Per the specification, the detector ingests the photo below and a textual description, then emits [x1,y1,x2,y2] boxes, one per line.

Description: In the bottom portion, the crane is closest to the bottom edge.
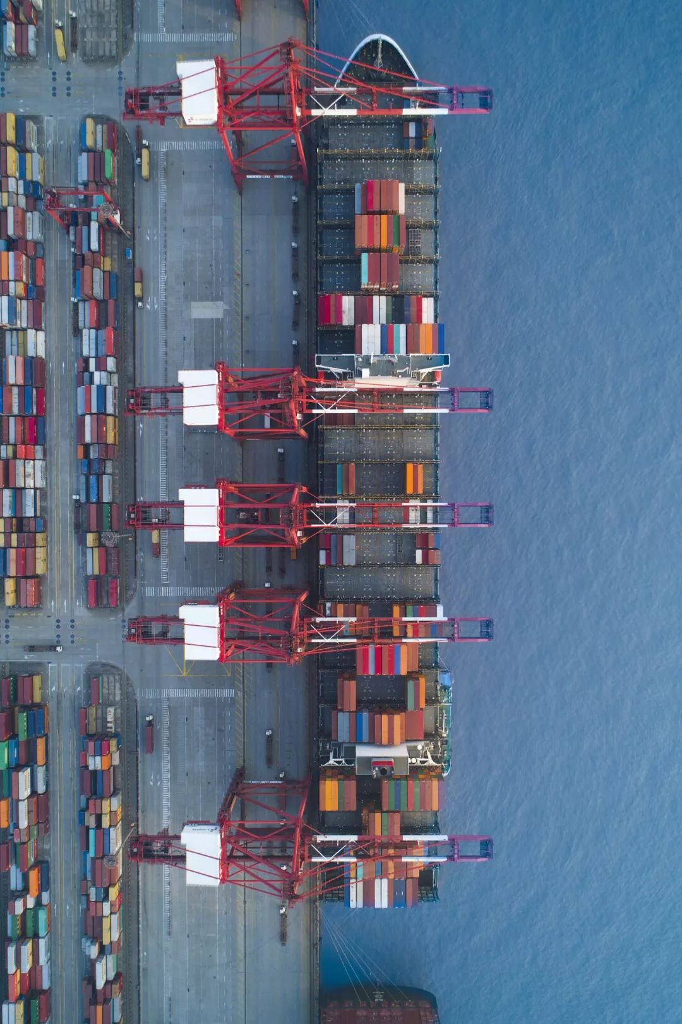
[126,764,495,906]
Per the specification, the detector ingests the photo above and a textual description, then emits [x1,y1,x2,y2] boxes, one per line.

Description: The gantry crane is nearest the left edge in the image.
[46,189,125,239]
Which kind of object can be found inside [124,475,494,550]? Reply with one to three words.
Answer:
container crane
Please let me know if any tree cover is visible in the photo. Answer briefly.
No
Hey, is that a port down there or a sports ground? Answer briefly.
port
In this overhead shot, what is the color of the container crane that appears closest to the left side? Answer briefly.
red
